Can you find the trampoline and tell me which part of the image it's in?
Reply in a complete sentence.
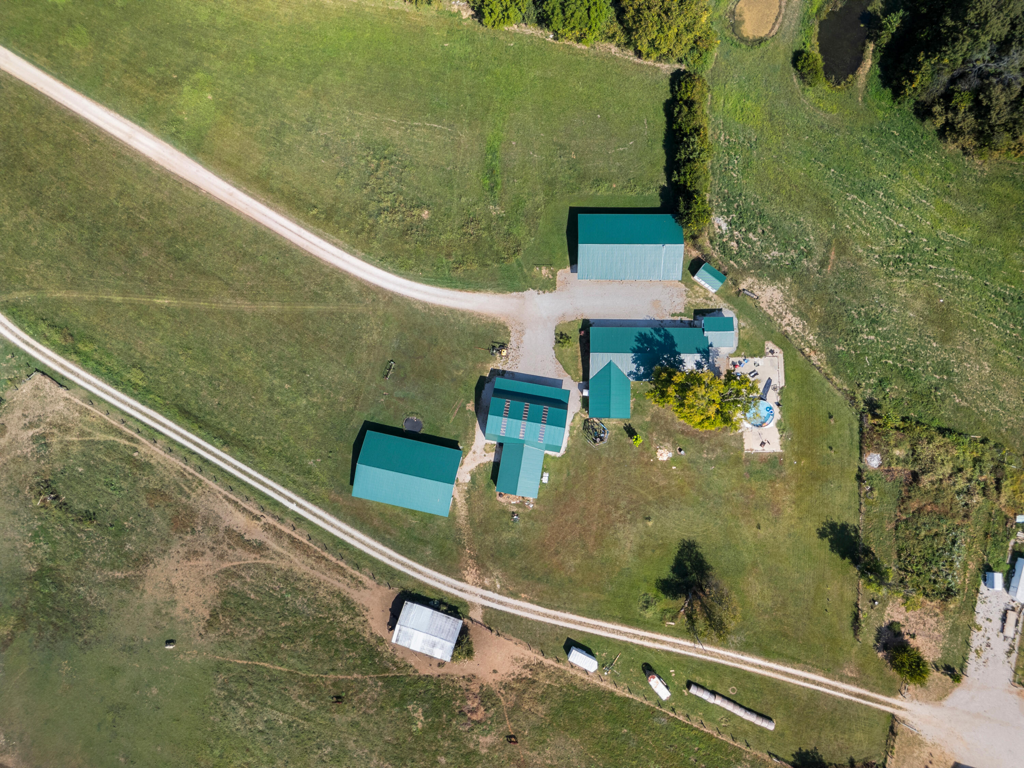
The trampoline appears toward the center of the photo.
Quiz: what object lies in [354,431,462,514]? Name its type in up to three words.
barn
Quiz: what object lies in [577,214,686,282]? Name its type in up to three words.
shed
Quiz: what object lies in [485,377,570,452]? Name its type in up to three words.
barn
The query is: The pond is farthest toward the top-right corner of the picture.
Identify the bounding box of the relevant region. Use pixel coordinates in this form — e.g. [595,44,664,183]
[733,0,779,41]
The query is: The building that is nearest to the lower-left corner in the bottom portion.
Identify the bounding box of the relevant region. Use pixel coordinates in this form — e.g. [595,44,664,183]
[392,599,464,662]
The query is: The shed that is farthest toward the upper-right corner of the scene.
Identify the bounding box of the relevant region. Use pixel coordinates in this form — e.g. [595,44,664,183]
[694,262,727,292]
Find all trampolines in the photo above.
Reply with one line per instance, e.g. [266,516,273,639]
[402,414,423,434]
